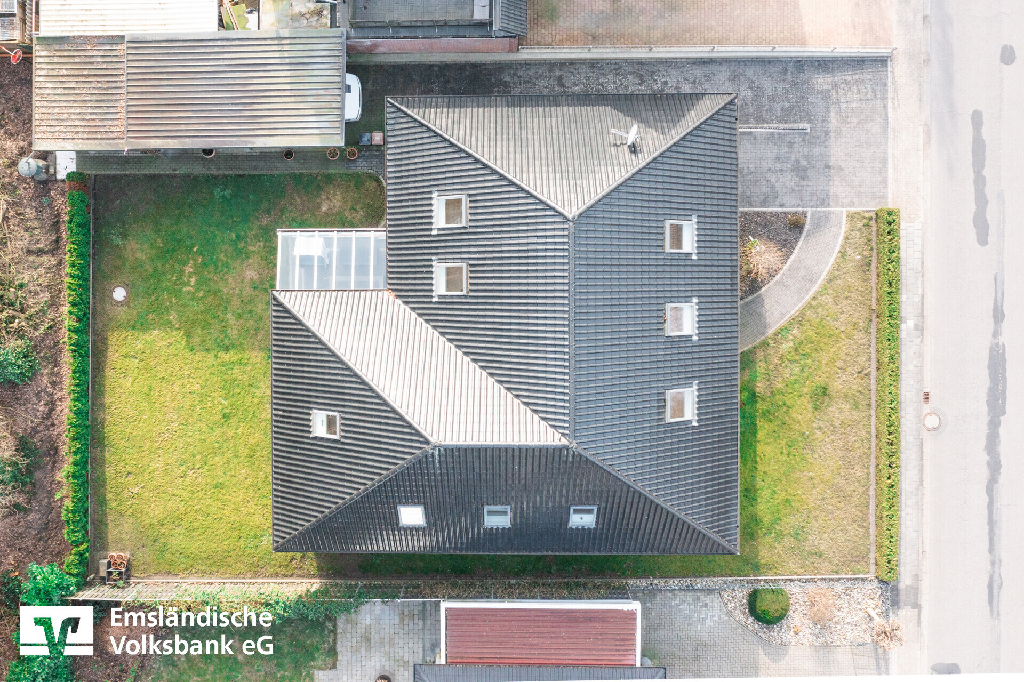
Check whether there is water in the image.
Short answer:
No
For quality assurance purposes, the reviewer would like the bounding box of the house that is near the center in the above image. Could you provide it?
[270,92,741,555]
